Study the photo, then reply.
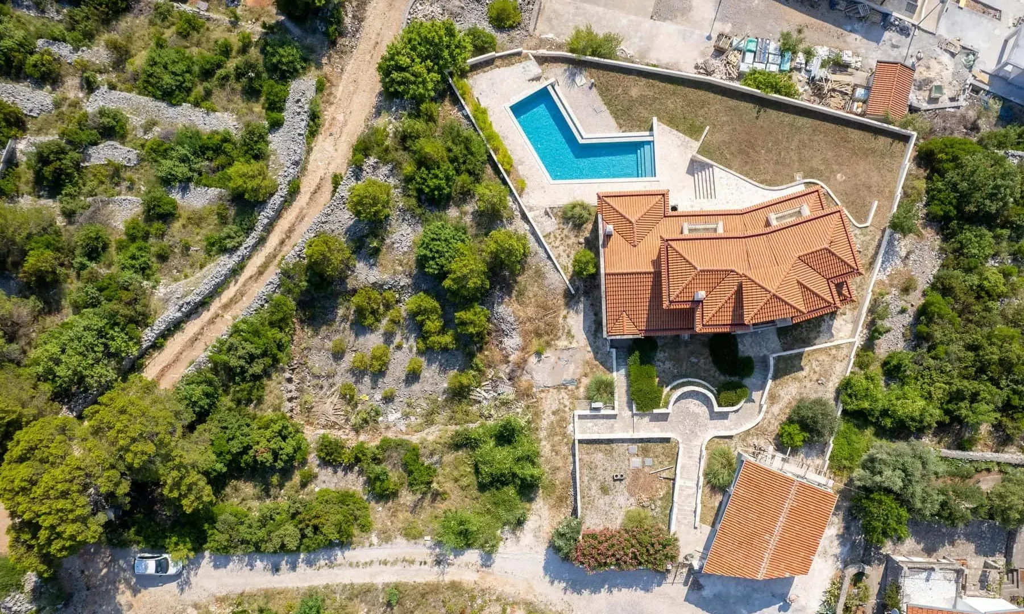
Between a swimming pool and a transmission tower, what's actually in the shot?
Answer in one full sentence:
I can see a swimming pool in this picture.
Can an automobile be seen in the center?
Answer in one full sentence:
No, there is no automobile in the center.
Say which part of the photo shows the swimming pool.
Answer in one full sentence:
You can find the swimming pool in the top area of the picture.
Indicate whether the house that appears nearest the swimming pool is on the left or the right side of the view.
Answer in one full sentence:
You can find the house that appears nearest the swimming pool on the right side of the picture.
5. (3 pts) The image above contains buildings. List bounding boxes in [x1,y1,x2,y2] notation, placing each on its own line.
[701,448,839,581]
[595,182,865,339]
[868,0,942,37]
[879,548,1024,614]
[969,6,1024,109]
[862,59,916,123]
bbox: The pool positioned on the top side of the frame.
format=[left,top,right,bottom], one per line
[503,78,659,184]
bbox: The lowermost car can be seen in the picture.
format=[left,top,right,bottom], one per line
[134,554,183,579]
